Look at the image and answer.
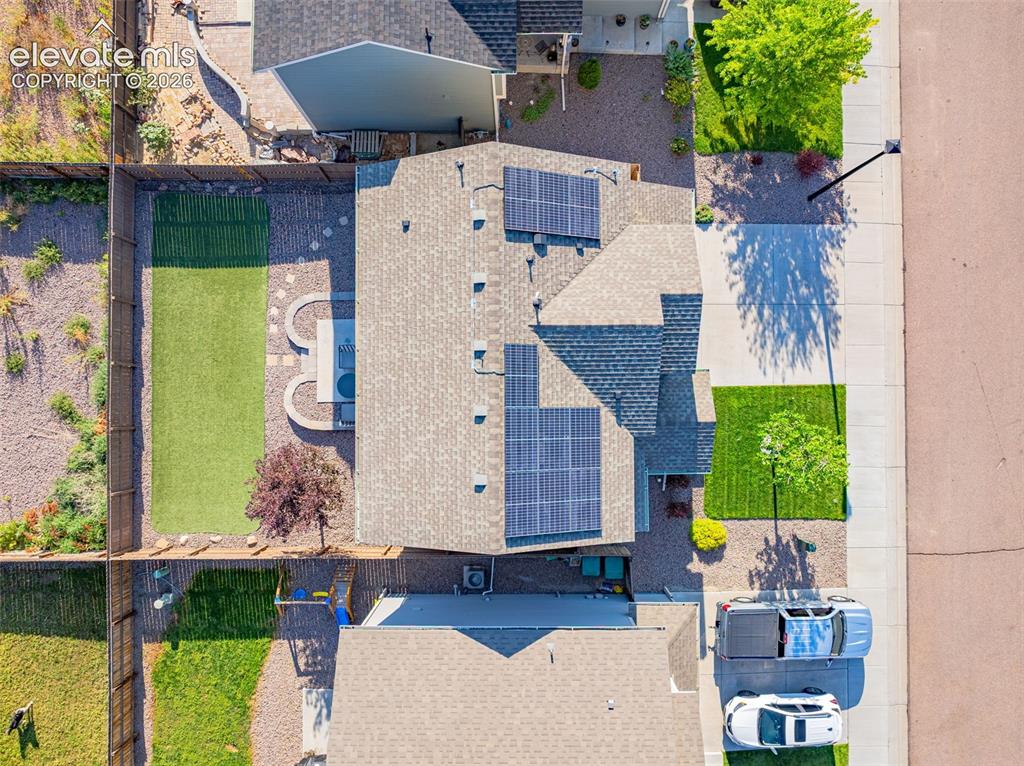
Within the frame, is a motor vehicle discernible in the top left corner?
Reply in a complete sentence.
No, no motor vehicle is visible in the top left corner.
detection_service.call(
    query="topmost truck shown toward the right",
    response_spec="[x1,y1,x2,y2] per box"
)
[706,598,871,668]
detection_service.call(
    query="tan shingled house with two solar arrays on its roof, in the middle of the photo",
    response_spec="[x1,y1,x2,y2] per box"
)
[358,143,715,554]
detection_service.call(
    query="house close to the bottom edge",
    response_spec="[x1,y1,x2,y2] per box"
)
[328,571,704,766]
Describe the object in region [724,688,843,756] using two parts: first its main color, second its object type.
white car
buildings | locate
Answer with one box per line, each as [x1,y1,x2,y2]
[358,143,715,554]
[328,571,704,766]
[253,0,665,137]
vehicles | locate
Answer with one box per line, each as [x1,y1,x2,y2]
[706,598,871,668]
[724,688,843,756]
